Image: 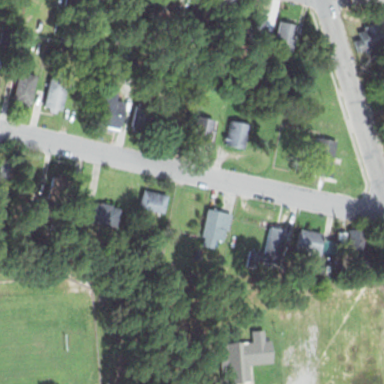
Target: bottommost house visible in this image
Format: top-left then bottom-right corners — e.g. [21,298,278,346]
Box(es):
[222,328,276,384]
